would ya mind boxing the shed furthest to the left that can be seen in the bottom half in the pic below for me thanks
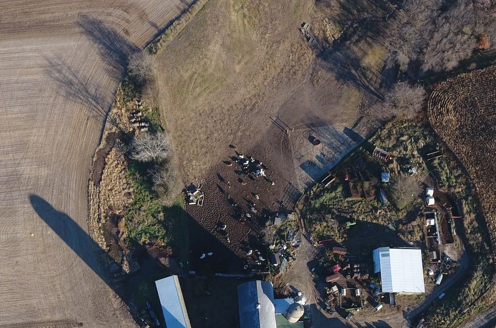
[156,275,192,328]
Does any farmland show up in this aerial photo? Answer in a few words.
Yes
